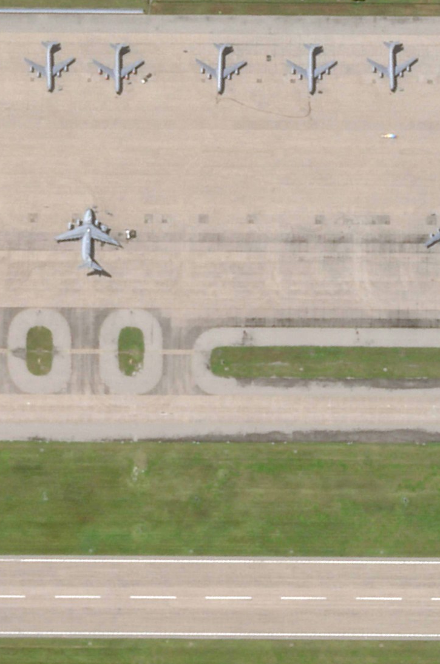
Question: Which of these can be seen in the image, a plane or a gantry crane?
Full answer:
Looking from above, you can make out a plane.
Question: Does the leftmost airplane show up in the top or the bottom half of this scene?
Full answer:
It is in the top half that the leftmost airplane appears.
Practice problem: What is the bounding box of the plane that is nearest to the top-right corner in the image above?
[367,40,417,92]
